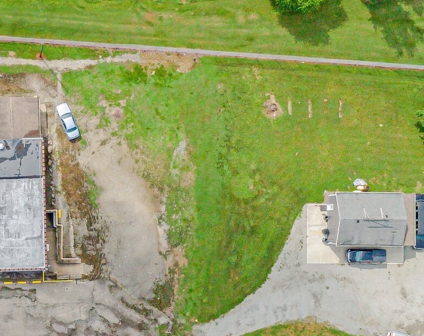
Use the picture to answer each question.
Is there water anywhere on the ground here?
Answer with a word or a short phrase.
No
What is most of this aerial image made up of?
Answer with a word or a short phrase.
grass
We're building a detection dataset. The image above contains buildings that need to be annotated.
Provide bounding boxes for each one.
[0,139,51,276]
[325,191,415,247]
